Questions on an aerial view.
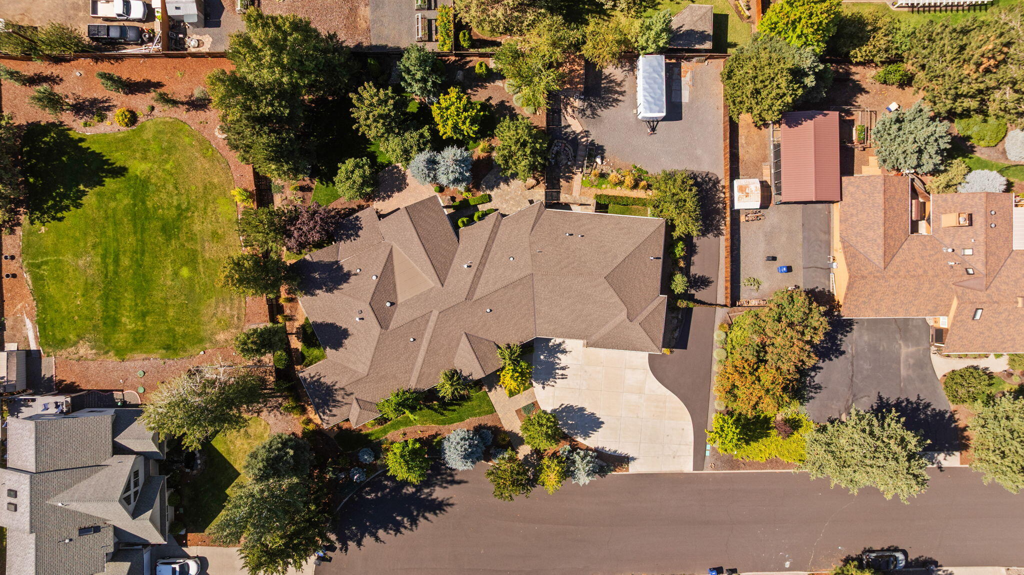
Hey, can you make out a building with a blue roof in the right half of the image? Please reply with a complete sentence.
No, I see no building with a blue roof in the right half of the image.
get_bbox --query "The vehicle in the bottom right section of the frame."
[865,552,910,575]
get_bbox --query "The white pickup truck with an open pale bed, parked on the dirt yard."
[85,0,146,23]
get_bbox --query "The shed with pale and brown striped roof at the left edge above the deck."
[0,343,38,392]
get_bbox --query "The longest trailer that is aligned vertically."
[633,56,664,139]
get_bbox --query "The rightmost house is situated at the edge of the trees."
[830,175,1024,354]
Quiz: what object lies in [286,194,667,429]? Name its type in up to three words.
house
